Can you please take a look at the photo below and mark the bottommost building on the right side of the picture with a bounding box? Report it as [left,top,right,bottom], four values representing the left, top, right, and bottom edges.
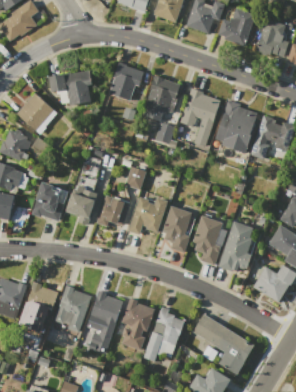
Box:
[190,368,231,392]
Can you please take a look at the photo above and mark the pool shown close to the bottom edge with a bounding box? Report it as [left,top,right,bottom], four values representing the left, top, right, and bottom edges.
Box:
[72,366,98,392]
